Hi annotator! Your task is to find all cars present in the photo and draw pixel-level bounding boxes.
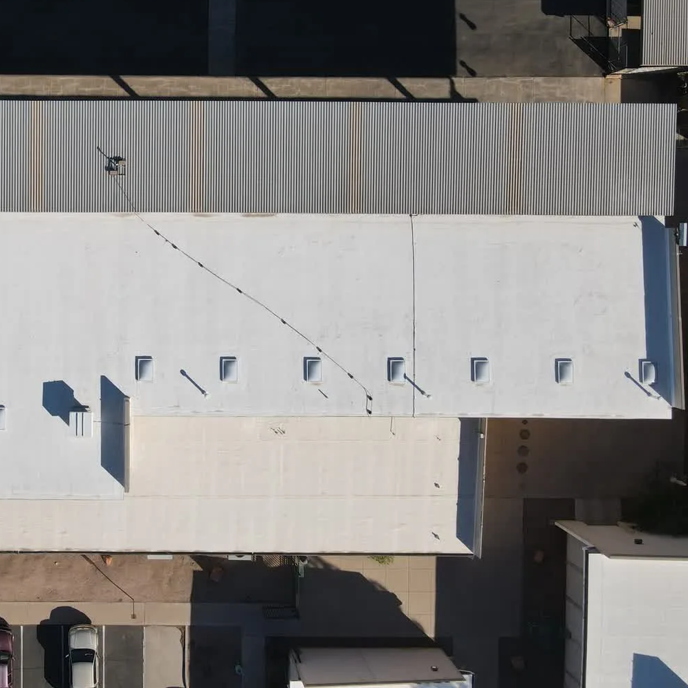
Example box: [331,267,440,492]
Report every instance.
[0,624,17,688]
[65,620,102,688]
